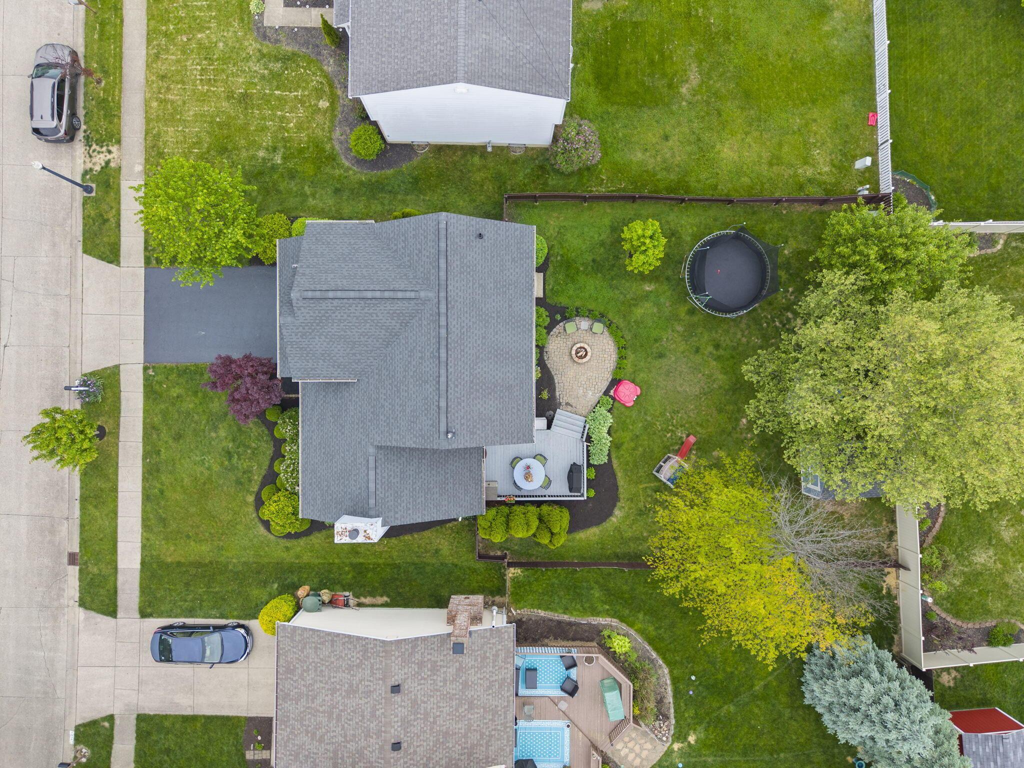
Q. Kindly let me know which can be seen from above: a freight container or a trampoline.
trampoline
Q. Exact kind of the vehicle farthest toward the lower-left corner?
car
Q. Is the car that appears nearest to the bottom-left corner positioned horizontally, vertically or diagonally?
horizontally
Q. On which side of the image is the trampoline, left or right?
right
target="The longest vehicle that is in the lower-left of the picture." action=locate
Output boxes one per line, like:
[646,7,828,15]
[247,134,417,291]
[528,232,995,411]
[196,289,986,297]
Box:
[150,621,253,671]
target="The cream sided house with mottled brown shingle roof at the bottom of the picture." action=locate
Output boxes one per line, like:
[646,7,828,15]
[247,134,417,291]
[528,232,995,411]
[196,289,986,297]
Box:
[274,605,517,768]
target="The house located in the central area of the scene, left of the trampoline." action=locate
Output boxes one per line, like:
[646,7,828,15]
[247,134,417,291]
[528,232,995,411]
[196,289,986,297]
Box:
[275,213,538,526]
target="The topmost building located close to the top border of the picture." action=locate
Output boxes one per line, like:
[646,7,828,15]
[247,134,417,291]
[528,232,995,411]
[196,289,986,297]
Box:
[333,0,576,144]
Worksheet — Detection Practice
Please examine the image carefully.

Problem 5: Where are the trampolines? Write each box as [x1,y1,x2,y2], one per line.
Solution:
[674,223,784,325]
